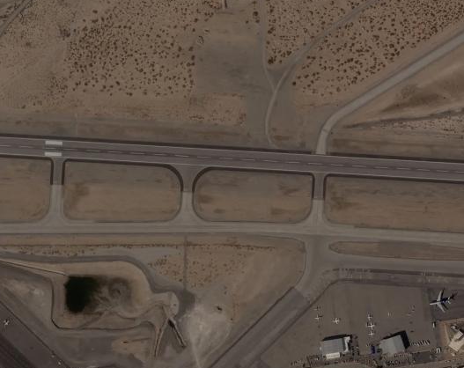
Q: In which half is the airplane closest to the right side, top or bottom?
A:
bottom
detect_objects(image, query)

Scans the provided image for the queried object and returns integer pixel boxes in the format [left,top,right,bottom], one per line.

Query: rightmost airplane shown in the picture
[431,291,453,312]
